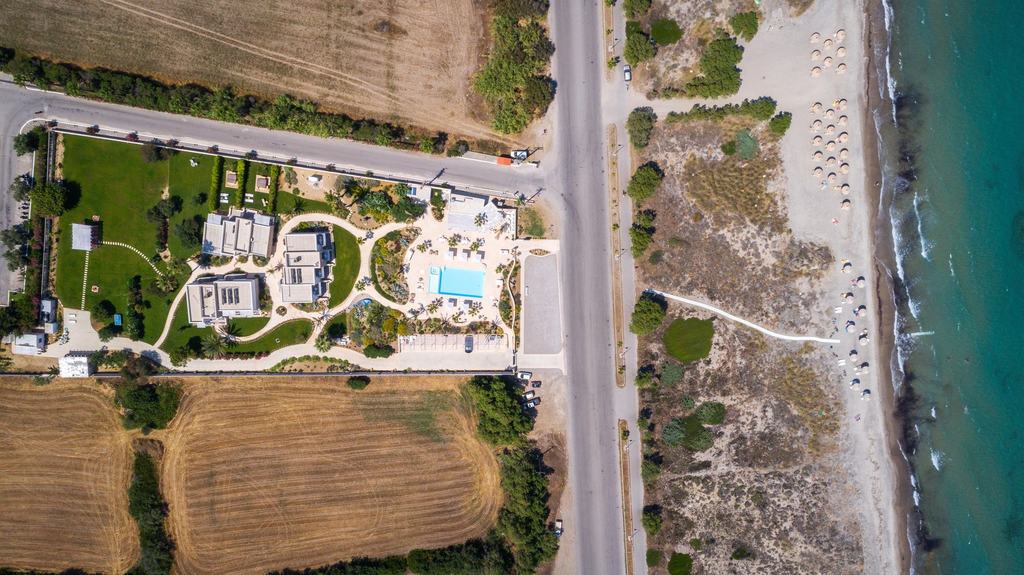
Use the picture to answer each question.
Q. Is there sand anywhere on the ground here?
Yes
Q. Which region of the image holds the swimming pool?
center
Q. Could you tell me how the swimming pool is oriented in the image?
horizontally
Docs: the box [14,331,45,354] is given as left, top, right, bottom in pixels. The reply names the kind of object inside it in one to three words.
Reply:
house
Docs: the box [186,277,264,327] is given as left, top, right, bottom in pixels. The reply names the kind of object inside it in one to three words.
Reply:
house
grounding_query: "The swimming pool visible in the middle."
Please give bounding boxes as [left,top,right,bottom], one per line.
[428,264,486,299]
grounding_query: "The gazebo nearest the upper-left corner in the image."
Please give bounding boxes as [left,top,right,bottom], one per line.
[71,222,98,250]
